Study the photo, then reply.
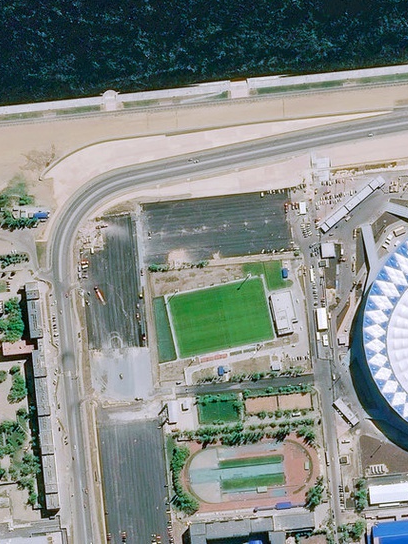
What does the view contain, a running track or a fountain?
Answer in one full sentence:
The image shows a running track.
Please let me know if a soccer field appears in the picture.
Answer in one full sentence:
Yes, a soccer field appears in the view.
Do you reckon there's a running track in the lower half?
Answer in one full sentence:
Yes, a running track shows up in the lower half.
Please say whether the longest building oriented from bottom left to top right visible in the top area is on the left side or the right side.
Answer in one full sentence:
You can find the longest building oriented from bottom left to top right visible in the top area on the right side of the picture.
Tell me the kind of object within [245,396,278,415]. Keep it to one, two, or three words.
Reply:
tennis court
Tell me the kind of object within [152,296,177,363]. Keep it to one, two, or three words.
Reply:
sports field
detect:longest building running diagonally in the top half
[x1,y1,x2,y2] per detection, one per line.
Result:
[321,177,384,230]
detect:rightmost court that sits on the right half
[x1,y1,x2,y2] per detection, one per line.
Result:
[279,392,312,411]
